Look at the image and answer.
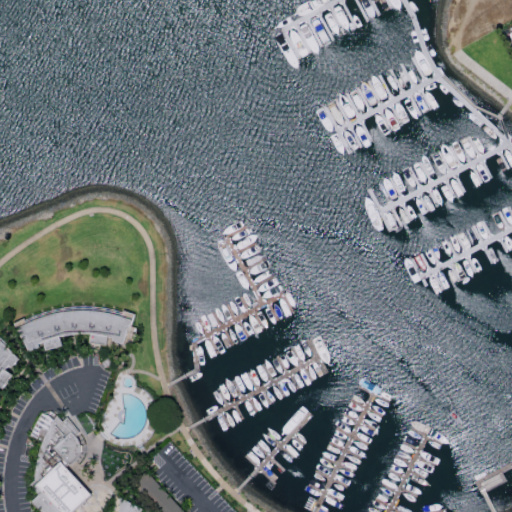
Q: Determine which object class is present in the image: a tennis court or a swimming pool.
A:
swimming pool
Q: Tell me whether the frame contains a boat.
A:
Yes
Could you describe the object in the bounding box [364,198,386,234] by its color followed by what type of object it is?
white boat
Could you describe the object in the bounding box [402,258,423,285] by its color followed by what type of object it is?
white boat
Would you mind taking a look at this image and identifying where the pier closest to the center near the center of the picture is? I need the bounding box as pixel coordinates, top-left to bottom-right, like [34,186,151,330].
[215,220,282,304]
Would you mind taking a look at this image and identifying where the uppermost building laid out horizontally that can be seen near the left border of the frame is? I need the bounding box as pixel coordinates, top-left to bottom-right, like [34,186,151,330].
[14,306,137,351]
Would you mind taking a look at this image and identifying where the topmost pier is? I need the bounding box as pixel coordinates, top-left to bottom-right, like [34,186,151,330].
[272,0,392,68]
